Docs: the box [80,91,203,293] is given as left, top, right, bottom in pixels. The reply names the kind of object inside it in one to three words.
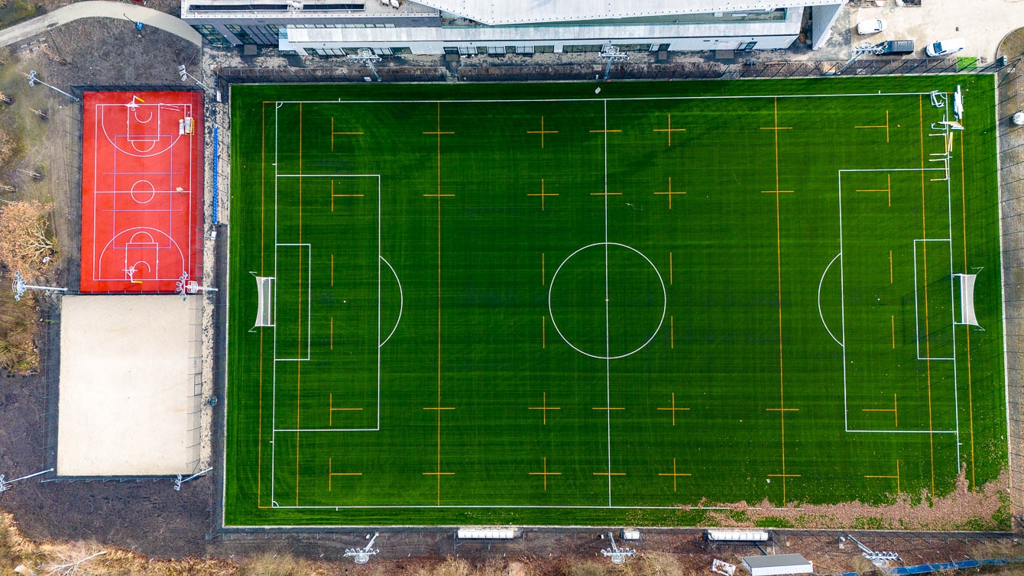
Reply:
basketball court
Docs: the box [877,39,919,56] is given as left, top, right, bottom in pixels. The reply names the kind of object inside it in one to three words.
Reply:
vehicle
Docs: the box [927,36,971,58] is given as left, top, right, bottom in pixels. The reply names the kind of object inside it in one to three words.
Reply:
vehicle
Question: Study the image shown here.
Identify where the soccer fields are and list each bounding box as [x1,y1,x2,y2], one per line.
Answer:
[221,71,1016,536]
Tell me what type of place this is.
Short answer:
sports ground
